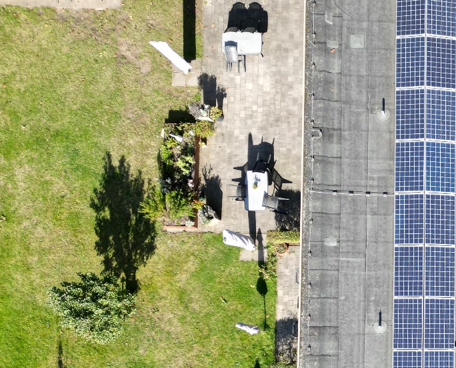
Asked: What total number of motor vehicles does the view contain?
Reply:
none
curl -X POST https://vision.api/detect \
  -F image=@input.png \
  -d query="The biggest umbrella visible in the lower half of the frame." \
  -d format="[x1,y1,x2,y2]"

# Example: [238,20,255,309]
[220,228,257,255]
